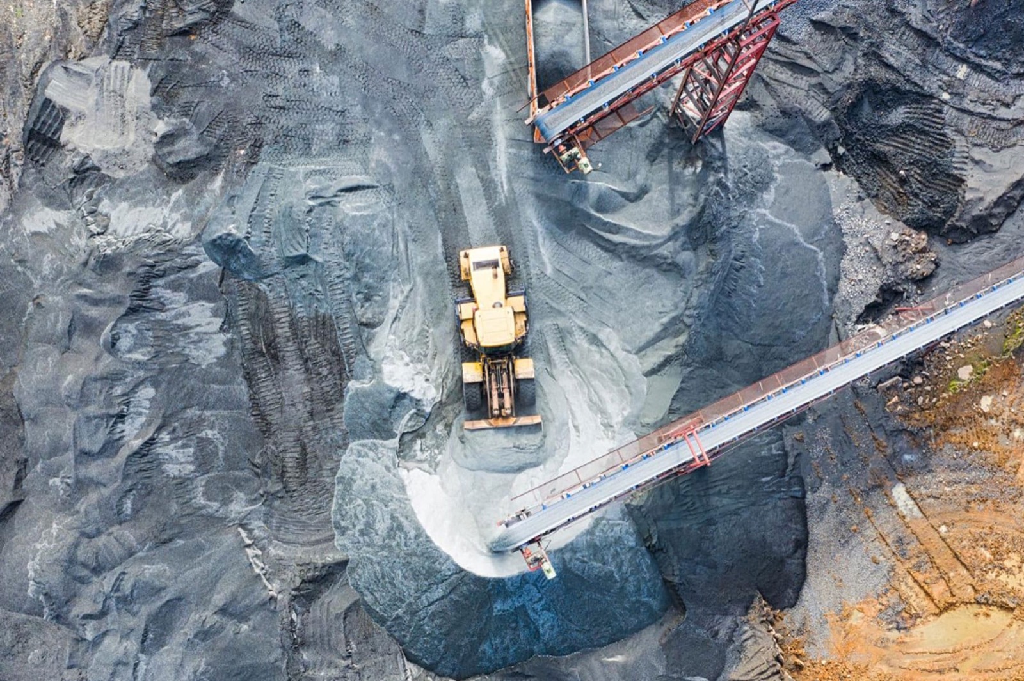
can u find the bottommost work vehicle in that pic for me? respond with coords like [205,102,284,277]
[452,246,546,445]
